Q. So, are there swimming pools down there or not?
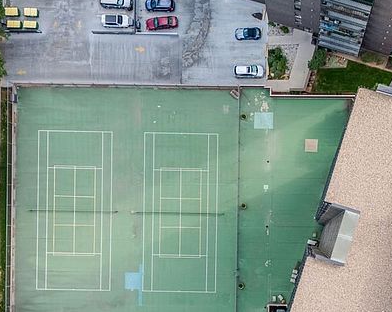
No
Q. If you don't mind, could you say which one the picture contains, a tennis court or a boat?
tennis court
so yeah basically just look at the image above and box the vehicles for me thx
[233,62,264,78]
[234,25,262,40]
[144,0,175,12]
[101,12,132,28]
[100,0,132,10]
[146,15,179,30]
